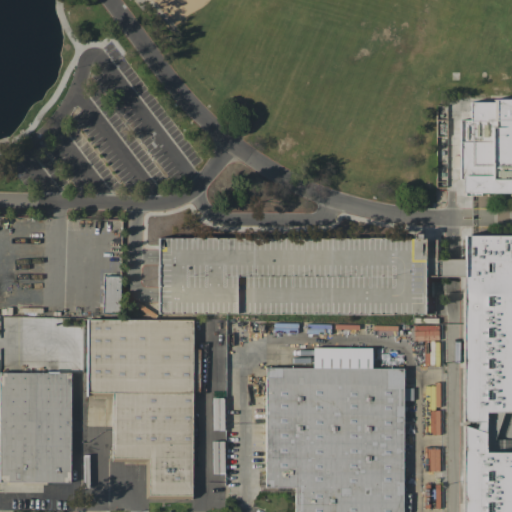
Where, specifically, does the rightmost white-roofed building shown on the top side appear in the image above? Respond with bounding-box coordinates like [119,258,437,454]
[459,99,512,198]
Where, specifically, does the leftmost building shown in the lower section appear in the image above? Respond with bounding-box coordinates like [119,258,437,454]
[0,373,73,485]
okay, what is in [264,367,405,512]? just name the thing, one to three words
warehouse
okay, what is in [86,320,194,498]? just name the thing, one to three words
building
